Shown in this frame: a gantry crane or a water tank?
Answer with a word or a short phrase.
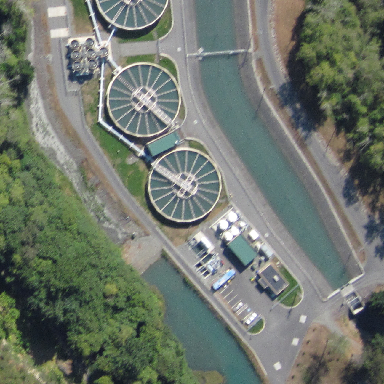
water tank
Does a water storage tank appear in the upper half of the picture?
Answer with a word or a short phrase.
Yes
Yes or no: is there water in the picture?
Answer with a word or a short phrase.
Yes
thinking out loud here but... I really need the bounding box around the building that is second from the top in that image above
[228,235,257,265]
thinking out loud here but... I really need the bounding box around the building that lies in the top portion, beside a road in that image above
[148,132,179,156]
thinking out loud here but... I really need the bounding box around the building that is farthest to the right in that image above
[257,263,289,295]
